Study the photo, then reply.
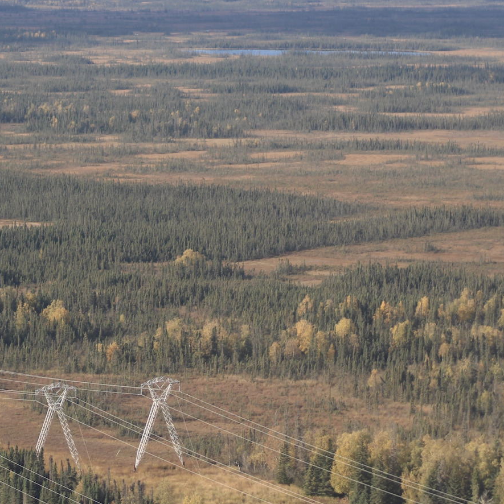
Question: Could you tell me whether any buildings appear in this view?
No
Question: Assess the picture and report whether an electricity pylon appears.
Yes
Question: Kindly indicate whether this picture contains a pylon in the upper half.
No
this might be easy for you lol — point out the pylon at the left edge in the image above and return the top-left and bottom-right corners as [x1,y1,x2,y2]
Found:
[24,380,93,473]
